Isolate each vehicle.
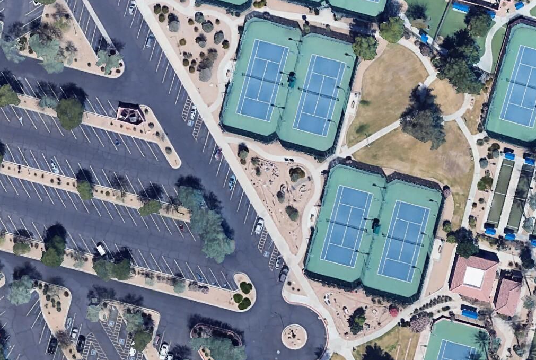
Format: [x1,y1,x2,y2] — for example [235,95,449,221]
[213,146,223,161]
[177,221,186,234]
[127,0,138,15]
[127,342,135,357]
[15,114,24,126]
[158,343,169,360]
[227,174,236,190]
[189,104,197,120]
[0,329,6,341]
[77,336,85,351]
[273,253,283,269]
[153,332,162,347]
[47,339,57,354]
[166,353,174,360]
[279,266,289,281]
[146,33,155,48]
[49,159,60,174]
[94,242,107,257]
[112,136,122,149]
[254,217,265,235]
[70,327,78,342]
